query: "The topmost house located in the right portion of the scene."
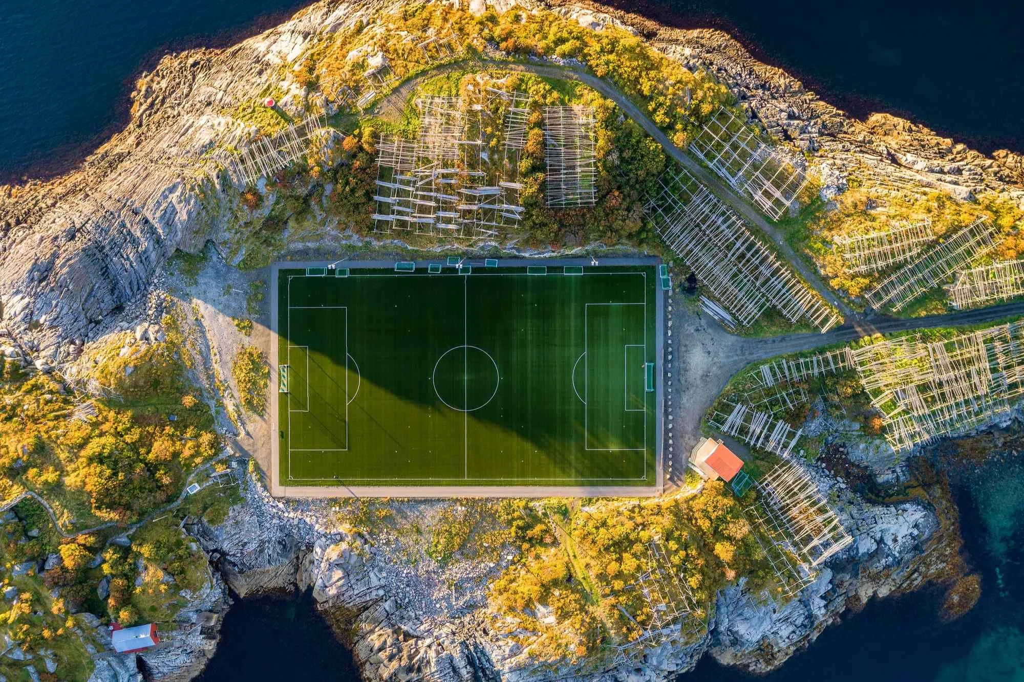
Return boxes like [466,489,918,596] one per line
[707,447,748,486]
